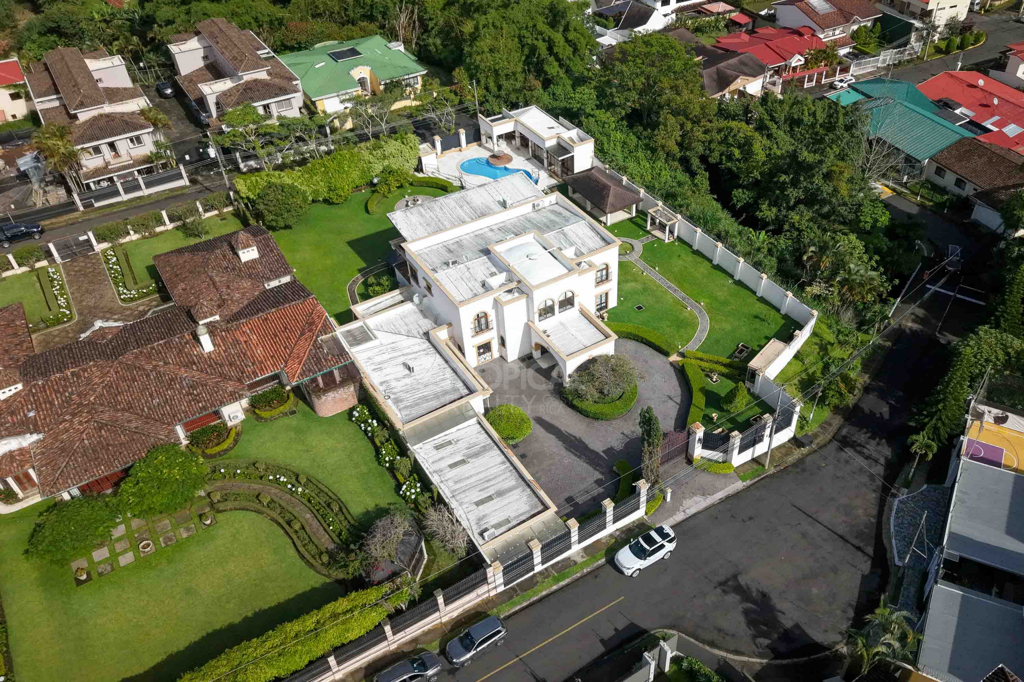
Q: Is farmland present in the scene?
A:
No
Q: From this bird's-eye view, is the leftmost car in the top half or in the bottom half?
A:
top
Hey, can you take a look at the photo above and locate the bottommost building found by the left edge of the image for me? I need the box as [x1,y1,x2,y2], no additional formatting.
[0,221,356,523]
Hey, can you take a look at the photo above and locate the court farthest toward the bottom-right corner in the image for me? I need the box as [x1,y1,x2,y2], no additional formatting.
[962,366,1024,477]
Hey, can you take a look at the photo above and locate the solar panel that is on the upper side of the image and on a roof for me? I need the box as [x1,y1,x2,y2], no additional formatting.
[332,45,364,63]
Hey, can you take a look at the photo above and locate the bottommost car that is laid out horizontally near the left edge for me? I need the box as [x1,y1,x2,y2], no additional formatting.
[0,224,42,246]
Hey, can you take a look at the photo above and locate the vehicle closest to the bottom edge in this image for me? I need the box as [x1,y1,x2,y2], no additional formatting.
[361,652,433,682]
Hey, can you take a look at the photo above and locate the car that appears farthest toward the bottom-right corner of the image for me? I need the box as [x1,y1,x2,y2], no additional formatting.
[611,526,679,577]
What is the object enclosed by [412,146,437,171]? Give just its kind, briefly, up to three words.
shed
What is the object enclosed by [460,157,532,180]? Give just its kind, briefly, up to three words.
swimming pool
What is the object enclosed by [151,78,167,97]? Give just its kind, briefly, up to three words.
car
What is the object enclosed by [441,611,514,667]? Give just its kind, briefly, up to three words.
car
